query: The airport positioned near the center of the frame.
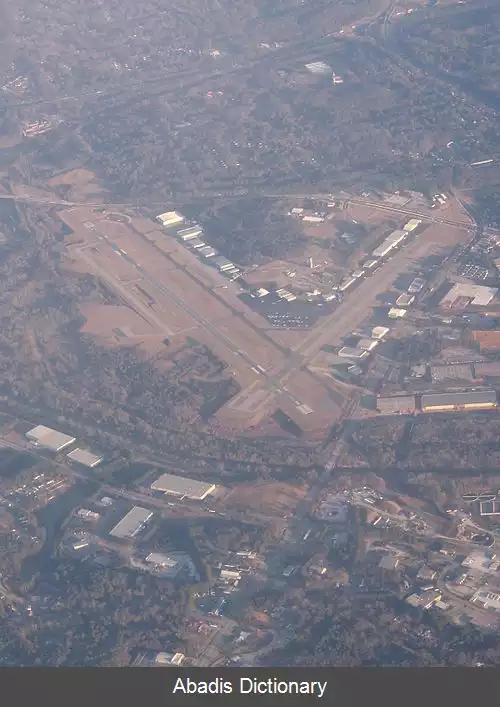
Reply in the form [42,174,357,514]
[57,206,474,438]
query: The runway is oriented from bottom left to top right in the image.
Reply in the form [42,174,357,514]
[244,237,441,407]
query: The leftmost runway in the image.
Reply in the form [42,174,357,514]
[95,230,309,409]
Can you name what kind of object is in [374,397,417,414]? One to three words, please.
building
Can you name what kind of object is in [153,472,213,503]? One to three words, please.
building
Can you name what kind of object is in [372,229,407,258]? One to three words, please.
hangar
